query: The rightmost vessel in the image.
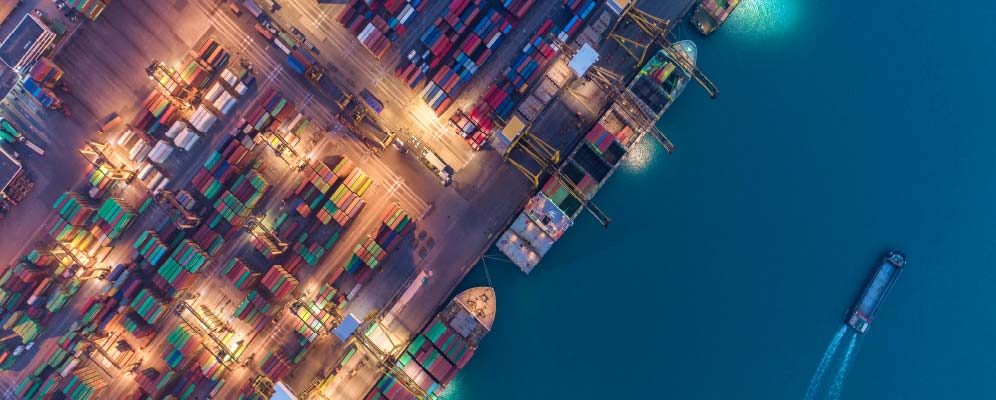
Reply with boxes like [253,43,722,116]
[848,255,907,333]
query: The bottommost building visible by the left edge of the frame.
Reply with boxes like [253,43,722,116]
[0,147,29,195]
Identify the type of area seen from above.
port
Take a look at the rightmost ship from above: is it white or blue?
blue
